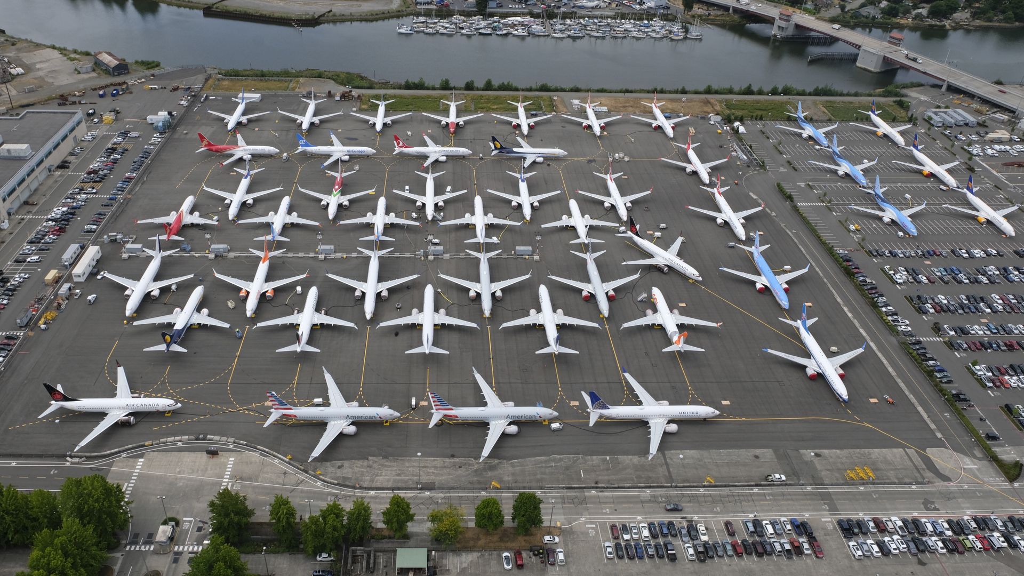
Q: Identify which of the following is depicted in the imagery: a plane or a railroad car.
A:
plane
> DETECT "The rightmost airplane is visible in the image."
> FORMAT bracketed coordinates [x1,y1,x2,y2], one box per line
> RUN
[943,173,1019,237]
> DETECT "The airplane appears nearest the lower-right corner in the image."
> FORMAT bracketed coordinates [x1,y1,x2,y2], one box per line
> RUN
[764,304,868,403]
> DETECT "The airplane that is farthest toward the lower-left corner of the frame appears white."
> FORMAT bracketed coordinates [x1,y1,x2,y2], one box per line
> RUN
[35,356,186,451]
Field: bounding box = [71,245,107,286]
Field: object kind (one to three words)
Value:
trailer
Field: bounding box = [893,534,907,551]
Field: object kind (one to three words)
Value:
car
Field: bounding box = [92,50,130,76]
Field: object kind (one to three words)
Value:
shed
